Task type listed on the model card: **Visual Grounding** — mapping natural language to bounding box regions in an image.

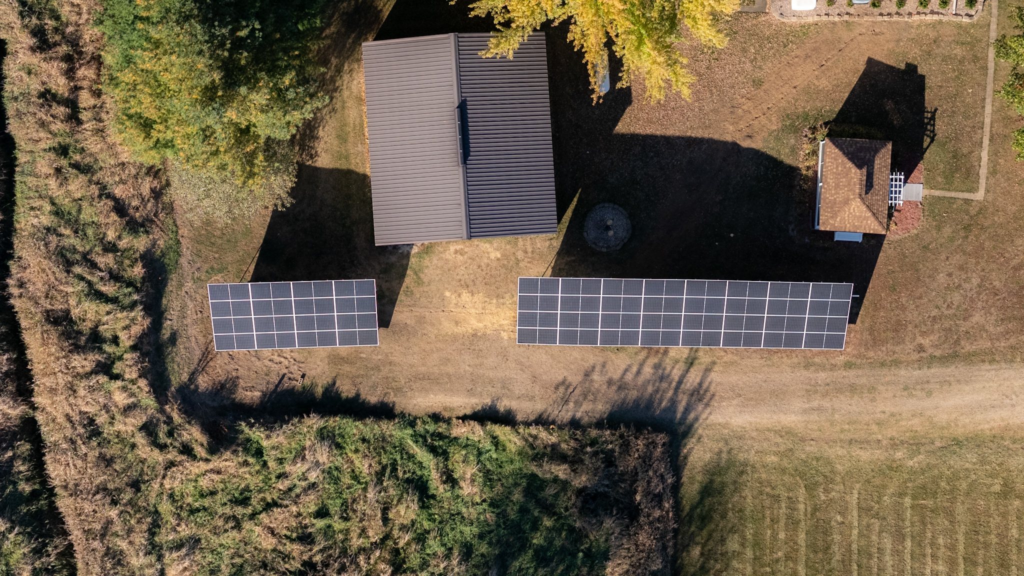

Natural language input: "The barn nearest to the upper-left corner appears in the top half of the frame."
[362,31,557,245]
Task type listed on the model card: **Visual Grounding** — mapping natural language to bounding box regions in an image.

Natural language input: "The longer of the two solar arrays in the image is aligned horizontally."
[518,277,859,349]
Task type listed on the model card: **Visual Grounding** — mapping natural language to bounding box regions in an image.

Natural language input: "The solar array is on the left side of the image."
[206,279,378,350]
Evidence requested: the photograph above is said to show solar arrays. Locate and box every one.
[206,279,378,350]
[518,277,859,349]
